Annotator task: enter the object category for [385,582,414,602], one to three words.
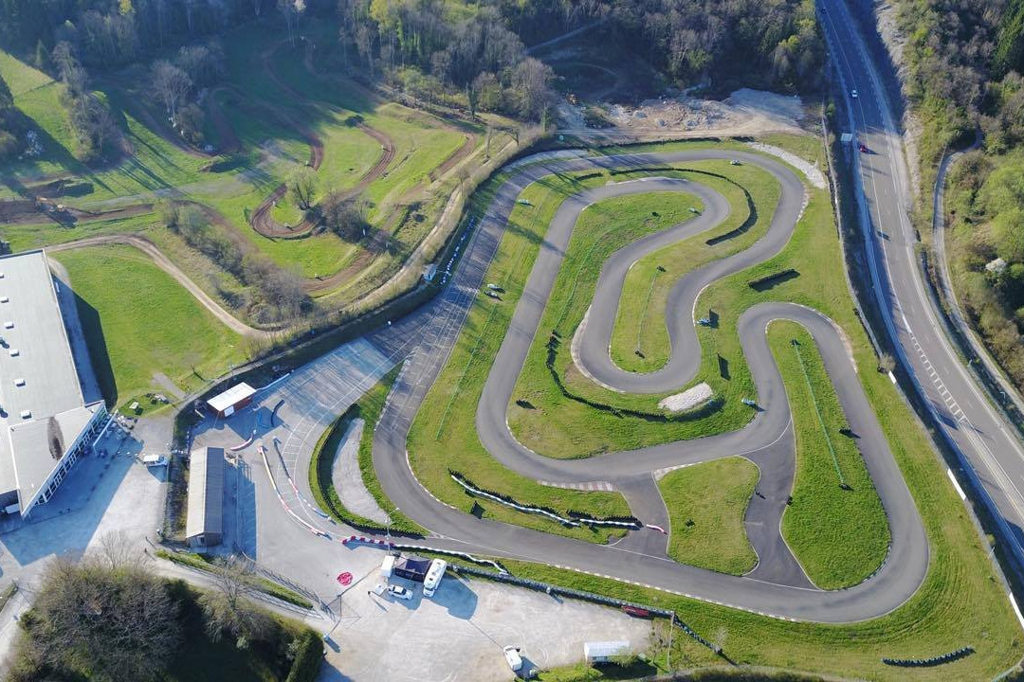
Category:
car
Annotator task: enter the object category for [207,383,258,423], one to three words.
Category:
shed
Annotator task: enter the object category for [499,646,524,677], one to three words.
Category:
vehicle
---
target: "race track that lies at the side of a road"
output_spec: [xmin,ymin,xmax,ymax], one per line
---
[373,149,930,623]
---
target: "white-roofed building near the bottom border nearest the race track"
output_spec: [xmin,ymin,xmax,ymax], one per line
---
[578,642,633,664]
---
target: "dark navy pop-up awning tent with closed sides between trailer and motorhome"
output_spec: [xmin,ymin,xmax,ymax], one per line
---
[396,556,430,583]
